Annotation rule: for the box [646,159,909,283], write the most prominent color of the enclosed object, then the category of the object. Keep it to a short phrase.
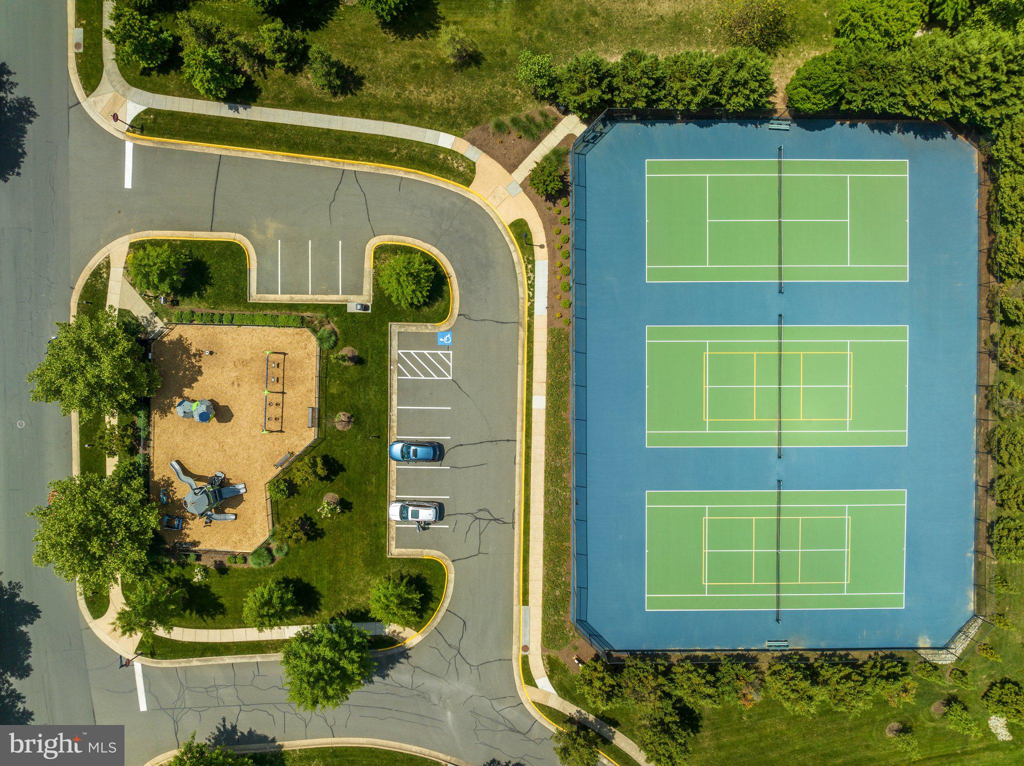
green tennis court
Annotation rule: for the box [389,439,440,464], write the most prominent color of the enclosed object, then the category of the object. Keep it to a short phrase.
blue car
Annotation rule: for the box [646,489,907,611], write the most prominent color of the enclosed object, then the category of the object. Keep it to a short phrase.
green tennis court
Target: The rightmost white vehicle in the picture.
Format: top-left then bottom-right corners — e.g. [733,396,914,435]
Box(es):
[388,500,439,533]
